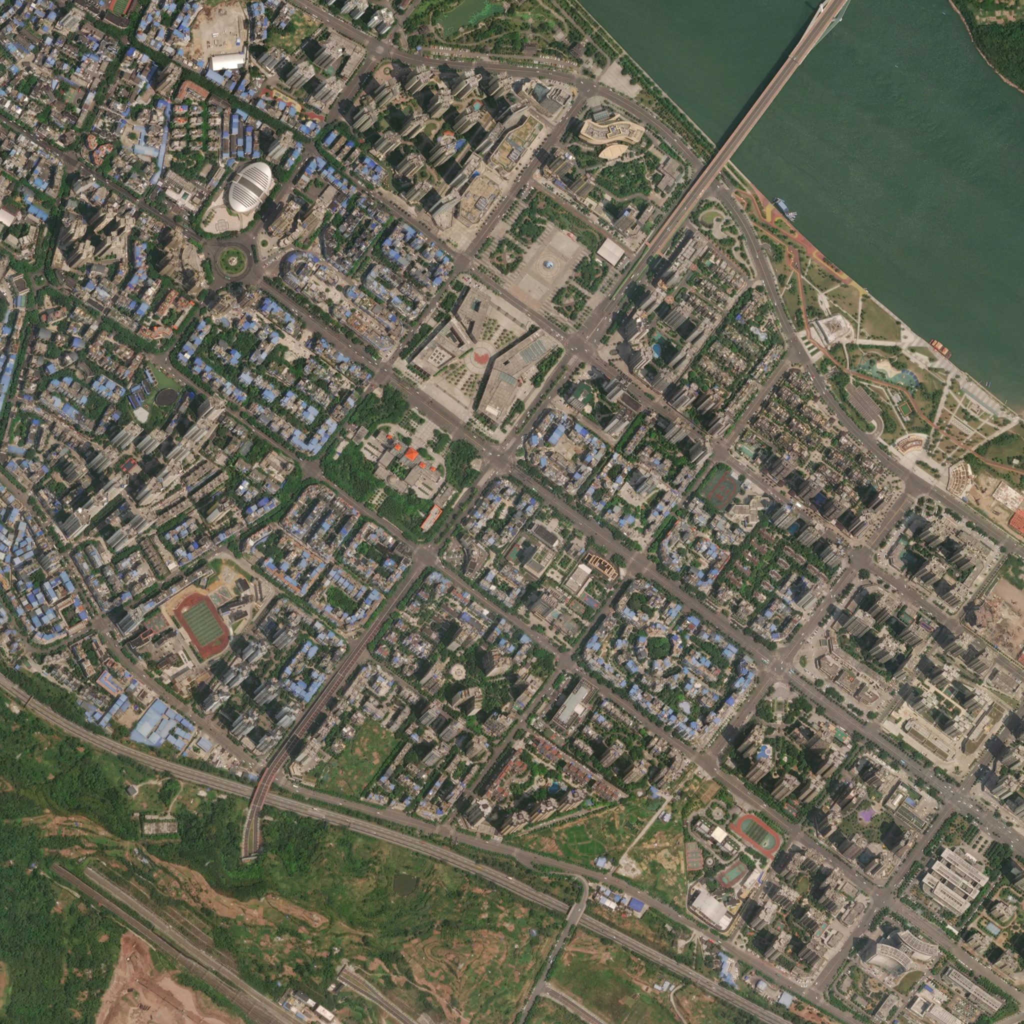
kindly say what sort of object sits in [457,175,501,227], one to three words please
building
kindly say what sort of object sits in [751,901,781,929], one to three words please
building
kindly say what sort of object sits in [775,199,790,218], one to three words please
ship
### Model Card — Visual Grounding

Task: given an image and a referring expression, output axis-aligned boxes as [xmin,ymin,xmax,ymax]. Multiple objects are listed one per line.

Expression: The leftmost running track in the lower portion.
[174,592,230,659]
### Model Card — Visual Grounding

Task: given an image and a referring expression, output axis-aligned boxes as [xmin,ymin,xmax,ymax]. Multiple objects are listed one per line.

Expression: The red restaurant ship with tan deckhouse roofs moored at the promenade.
[930,340,951,358]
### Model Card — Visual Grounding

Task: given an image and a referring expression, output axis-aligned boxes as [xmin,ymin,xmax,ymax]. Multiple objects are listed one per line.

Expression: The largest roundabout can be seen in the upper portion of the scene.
[210,237,257,284]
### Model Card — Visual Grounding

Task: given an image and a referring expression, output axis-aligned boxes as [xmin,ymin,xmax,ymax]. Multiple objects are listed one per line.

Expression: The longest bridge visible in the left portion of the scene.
[241,596,397,858]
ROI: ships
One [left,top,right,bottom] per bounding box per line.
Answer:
[775,199,790,218]
[930,340,951,358]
